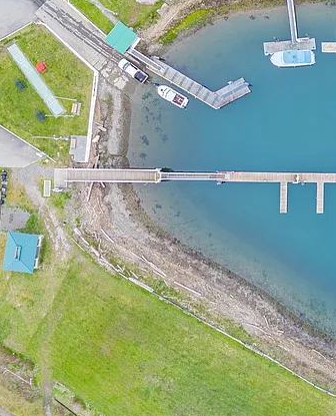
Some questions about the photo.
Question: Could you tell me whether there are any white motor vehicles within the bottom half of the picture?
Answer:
No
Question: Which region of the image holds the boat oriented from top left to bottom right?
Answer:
top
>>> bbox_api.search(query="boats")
[270,47,316,69]
[158,87,189,109]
